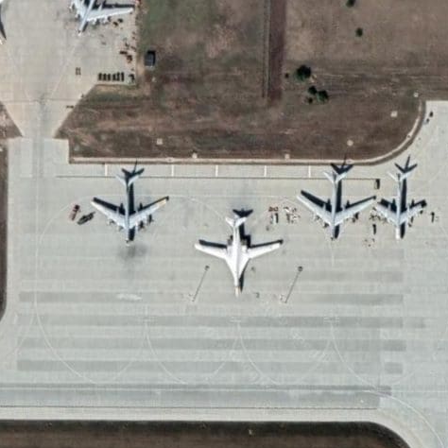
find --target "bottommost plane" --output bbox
[196,213,278,295]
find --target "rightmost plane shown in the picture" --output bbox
[376,165,420,238]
